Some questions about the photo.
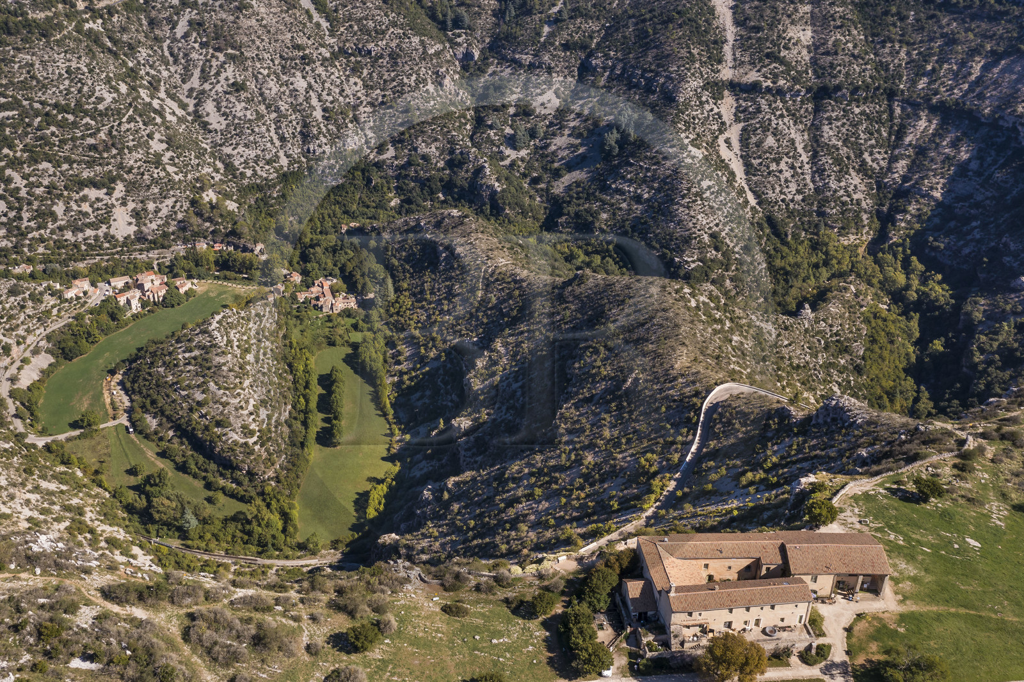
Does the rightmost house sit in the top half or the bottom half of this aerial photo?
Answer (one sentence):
It is in the bottom half that the rightmost house appears.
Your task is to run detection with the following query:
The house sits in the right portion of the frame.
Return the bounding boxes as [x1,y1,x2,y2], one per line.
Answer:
[625,532,893,647]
